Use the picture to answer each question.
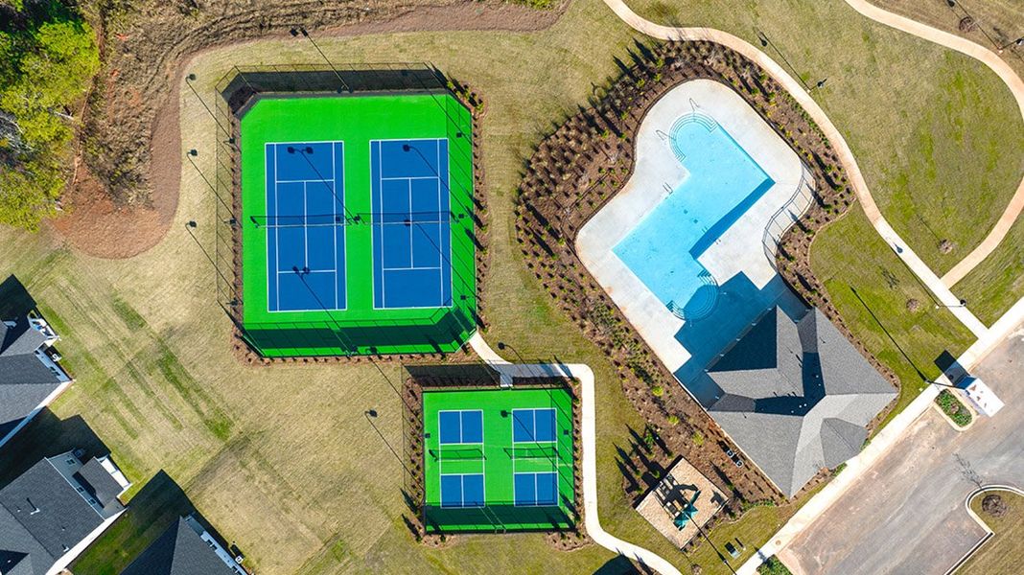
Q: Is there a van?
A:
Yes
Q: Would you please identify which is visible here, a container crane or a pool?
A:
pool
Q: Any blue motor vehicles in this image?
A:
No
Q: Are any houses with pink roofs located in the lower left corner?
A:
No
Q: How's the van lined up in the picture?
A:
diagonally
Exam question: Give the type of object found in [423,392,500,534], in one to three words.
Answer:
sports court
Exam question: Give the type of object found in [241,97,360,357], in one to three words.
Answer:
tennis court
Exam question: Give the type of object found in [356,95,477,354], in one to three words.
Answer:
tennis court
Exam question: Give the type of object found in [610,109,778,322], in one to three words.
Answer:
swimming pool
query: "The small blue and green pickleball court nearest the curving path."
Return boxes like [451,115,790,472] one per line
[498,390,576,532]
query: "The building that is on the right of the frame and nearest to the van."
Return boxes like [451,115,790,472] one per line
[700,305,897,495]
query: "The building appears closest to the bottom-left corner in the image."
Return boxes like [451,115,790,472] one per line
[0,450,137,575]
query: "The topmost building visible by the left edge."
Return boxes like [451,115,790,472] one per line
[0,304,71,452]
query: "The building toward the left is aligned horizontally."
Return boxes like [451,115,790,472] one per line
[121,512,253,575]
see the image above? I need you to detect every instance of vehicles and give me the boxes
[953,372,1004,418]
